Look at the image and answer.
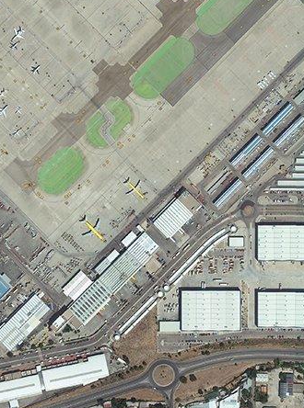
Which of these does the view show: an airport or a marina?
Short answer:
airport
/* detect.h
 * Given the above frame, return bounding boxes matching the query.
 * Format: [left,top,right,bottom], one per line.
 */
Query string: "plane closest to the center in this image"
[123,177,144,198]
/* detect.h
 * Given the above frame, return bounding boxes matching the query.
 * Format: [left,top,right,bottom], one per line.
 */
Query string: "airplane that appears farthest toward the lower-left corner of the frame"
[80,215,104,241]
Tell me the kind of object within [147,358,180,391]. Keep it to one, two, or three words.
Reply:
roundabout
